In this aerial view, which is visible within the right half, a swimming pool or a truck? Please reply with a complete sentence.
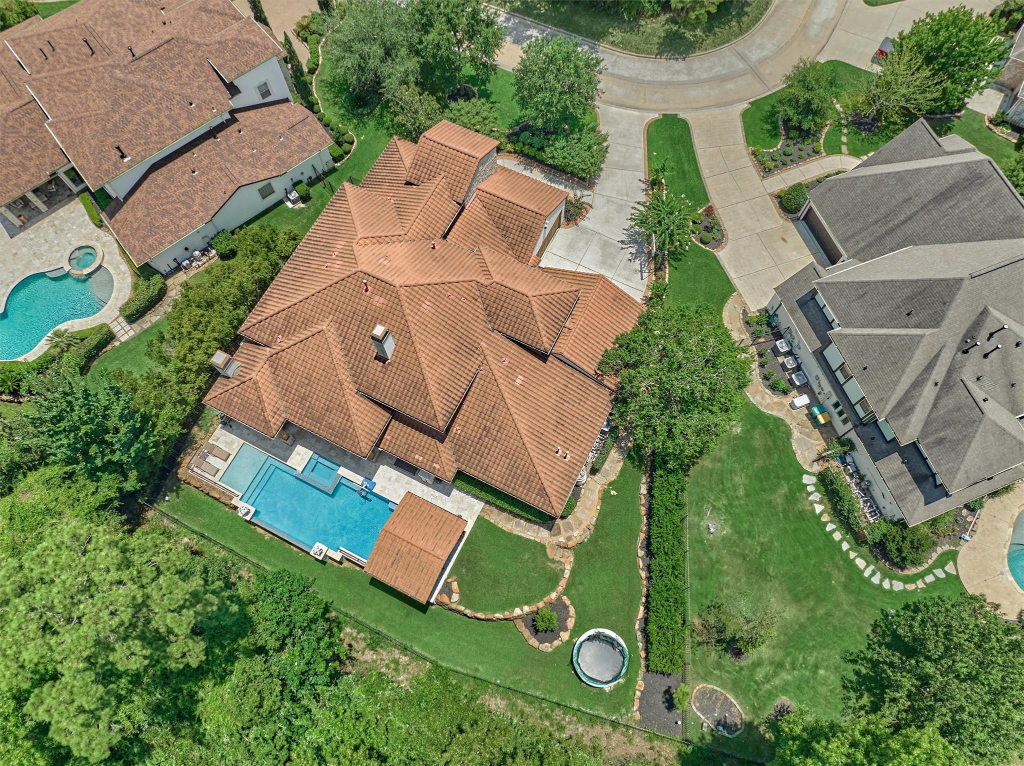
What appears within the right half is a swimming pool.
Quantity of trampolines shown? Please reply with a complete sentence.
The count comes to 1 trampoline.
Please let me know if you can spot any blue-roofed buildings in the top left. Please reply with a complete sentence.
No, I see no blue-roofed building in the top left.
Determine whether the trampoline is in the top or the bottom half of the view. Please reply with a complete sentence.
The bottom half of the photo is where the trampoline is.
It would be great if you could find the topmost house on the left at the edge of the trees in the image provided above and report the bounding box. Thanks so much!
[0,0,334,277]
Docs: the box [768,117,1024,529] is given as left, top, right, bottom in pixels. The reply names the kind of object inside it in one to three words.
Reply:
house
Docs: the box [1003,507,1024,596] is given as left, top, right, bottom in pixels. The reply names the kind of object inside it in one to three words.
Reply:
swimming pool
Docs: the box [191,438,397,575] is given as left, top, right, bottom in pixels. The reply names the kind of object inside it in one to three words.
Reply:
swimming pool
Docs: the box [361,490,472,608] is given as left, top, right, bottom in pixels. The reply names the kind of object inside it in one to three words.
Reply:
building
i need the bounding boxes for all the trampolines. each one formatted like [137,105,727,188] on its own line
[572,627,629,687]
